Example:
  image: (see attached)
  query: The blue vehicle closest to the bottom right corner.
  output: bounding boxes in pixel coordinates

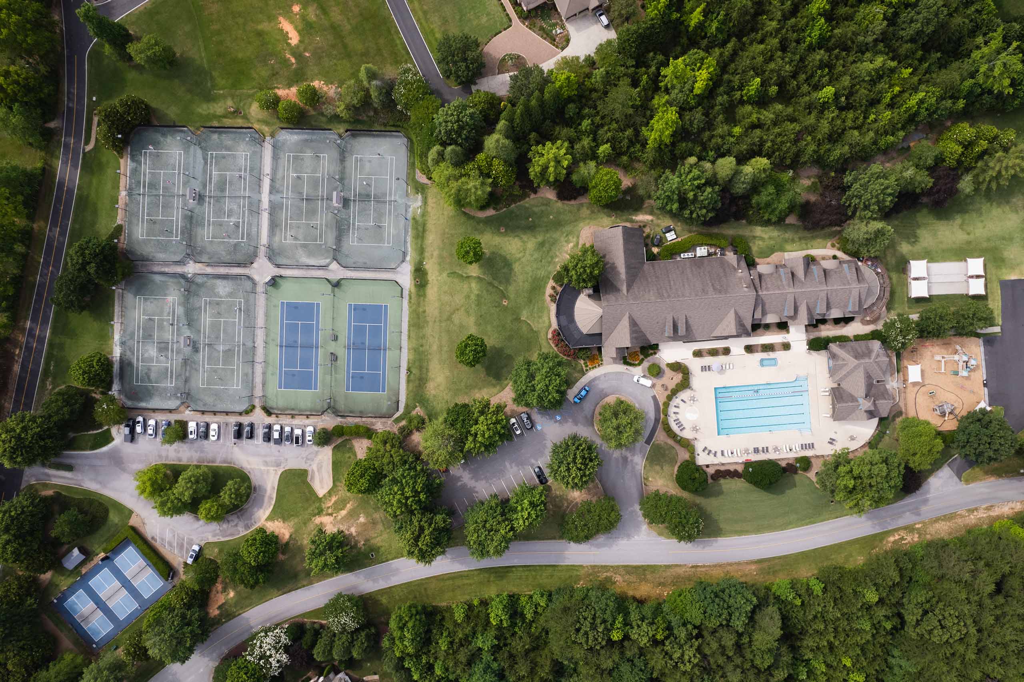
[575,386,588,403]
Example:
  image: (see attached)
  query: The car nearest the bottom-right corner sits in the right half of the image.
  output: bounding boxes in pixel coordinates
[633,375,652,387]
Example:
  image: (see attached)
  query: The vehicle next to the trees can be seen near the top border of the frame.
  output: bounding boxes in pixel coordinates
[596,9,610,28]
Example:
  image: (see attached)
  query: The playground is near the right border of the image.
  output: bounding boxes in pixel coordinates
[903,336,986,432]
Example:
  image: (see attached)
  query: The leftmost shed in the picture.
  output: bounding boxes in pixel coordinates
[57,550,84,573]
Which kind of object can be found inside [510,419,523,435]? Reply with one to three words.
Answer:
vehicle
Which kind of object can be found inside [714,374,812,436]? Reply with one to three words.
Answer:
swimming pool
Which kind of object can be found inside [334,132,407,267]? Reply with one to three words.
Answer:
tennis court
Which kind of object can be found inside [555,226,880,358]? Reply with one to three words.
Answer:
building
